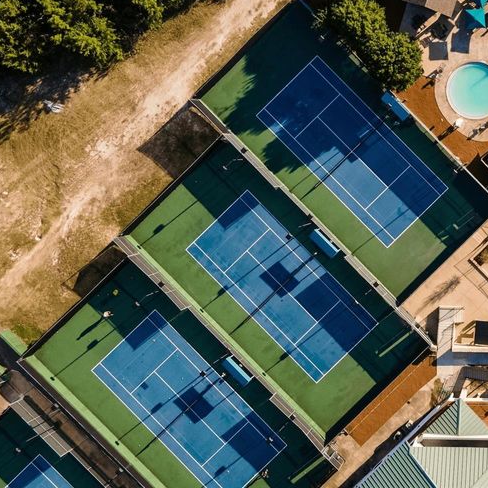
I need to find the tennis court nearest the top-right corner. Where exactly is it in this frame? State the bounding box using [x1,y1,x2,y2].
[202,2,488,303]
